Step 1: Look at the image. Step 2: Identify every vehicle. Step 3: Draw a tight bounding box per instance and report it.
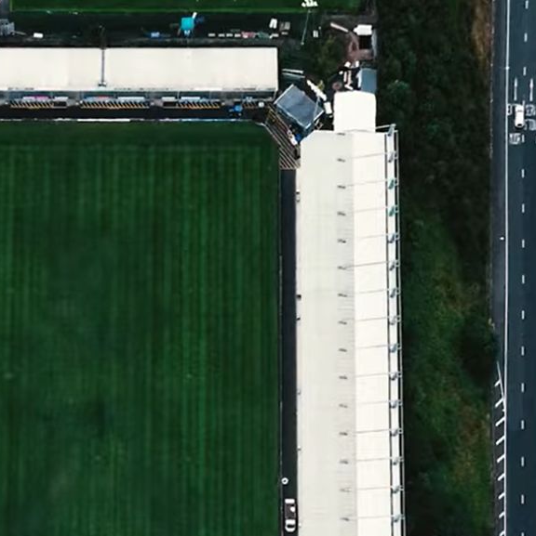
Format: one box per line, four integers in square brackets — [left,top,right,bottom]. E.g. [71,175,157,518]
[284,500,295,532]
[353,25,374,34]
[513,101,524,127]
